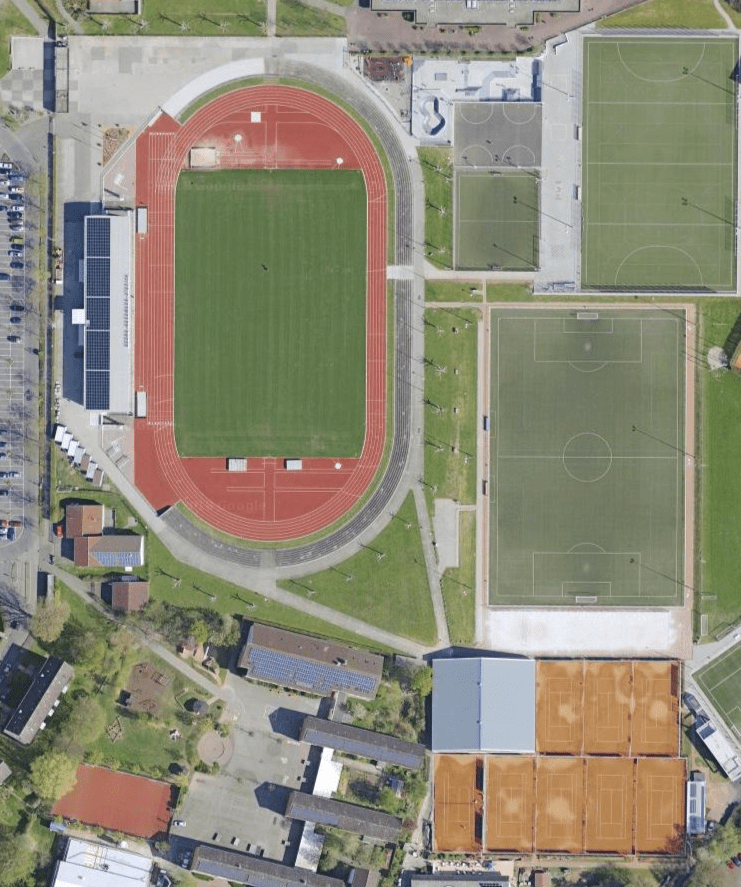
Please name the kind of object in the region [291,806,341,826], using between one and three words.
solar panel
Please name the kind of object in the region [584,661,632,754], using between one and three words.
tennis court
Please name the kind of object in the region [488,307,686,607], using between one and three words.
soccer field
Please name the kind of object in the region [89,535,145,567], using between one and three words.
house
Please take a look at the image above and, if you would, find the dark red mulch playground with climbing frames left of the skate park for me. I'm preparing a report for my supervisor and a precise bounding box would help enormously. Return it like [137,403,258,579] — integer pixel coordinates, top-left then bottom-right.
[363,57,404,81]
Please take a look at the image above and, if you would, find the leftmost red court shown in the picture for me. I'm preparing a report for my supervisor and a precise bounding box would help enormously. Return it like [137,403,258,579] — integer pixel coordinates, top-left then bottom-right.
[53,763,174,838]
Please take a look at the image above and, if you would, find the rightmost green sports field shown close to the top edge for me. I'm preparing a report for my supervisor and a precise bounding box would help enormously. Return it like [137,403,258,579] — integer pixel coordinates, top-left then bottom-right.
[582,37,739,291]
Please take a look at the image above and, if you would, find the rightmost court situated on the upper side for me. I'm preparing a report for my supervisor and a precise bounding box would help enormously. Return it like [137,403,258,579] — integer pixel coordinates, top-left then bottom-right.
[453,101,543,167]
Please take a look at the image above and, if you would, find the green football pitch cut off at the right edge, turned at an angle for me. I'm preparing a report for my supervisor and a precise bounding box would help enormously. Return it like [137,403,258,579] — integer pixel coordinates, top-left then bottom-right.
[691,641,741,738]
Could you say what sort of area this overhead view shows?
sports ground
